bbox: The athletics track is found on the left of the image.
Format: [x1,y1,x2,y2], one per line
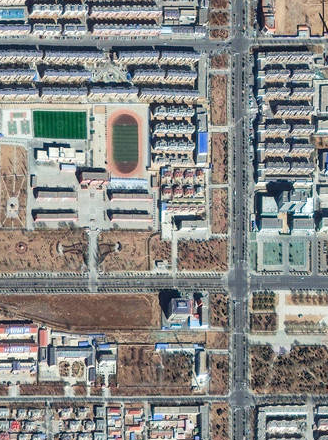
[105,110,143,177]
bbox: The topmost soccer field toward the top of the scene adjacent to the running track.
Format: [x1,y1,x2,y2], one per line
[32,110,87,139]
